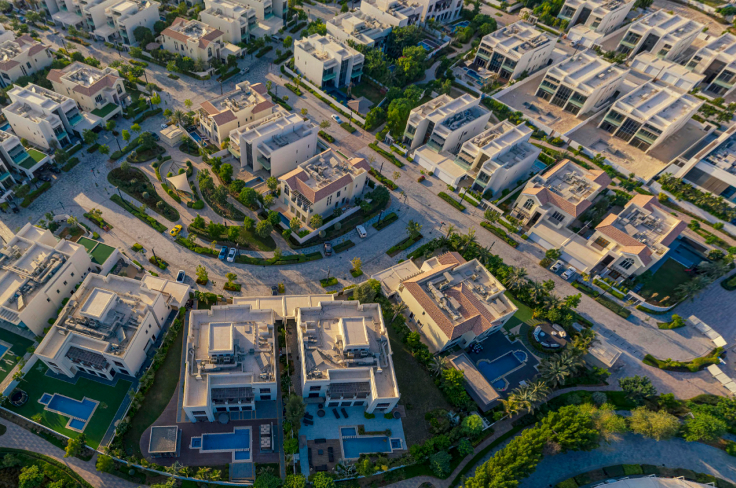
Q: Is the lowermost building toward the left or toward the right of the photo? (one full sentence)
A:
You can find the lowermost building on the left side of the picture.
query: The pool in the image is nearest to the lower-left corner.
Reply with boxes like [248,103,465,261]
[39,392,99,431]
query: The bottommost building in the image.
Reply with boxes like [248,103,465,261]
[151,425,179,455]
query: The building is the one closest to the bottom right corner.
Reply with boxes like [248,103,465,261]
[584,336,623,372]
